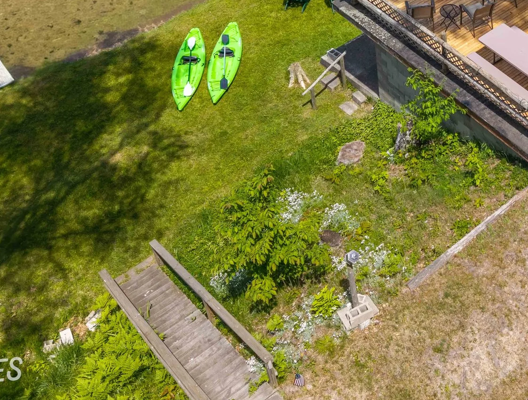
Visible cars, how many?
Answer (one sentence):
The picture shows no cars.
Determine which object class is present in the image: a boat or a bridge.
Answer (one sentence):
It is a boat that can be seen here.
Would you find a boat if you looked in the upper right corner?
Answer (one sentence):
No, I see no boat in the upper right corner.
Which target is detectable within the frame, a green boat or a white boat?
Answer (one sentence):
The image shows a green boat.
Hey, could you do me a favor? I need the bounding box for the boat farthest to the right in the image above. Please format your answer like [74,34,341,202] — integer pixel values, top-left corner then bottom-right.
[208,22,243,108]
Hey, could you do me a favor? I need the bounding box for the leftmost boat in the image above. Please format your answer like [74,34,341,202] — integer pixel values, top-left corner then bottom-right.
[171,28,206,115]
